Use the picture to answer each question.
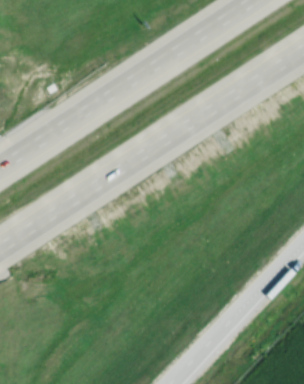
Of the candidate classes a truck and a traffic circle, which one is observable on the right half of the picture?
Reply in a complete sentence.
It is a truck that can be seen on the right half of the picture.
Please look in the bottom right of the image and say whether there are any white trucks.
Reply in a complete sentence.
Yes, in the bottom right of the image there is a white truck.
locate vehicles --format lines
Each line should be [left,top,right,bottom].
[106,171,118,181]
[266,262,298,300]
[0,160,9,168]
